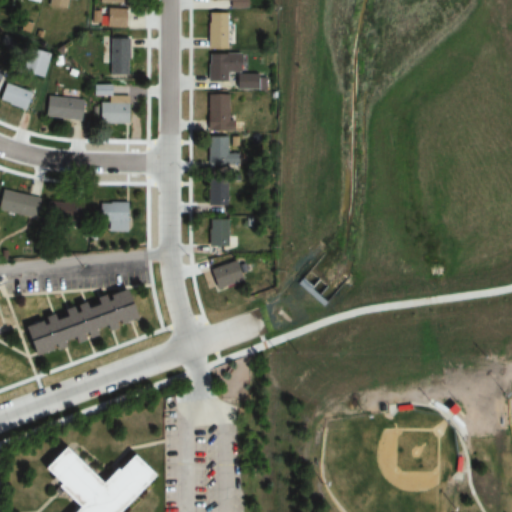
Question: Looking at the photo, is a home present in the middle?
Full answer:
Yes, there is a home in the middle.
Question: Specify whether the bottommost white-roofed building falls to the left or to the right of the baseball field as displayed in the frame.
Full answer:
In the image, the bottommost white-roofed building sits on the left side of the baseball field.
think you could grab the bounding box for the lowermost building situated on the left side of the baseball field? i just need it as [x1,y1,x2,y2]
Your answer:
[48,446,158,512]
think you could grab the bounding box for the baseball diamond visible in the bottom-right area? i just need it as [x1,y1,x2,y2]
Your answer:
[320,411,457,512]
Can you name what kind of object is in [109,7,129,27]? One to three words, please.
house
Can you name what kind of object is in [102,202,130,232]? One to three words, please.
house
